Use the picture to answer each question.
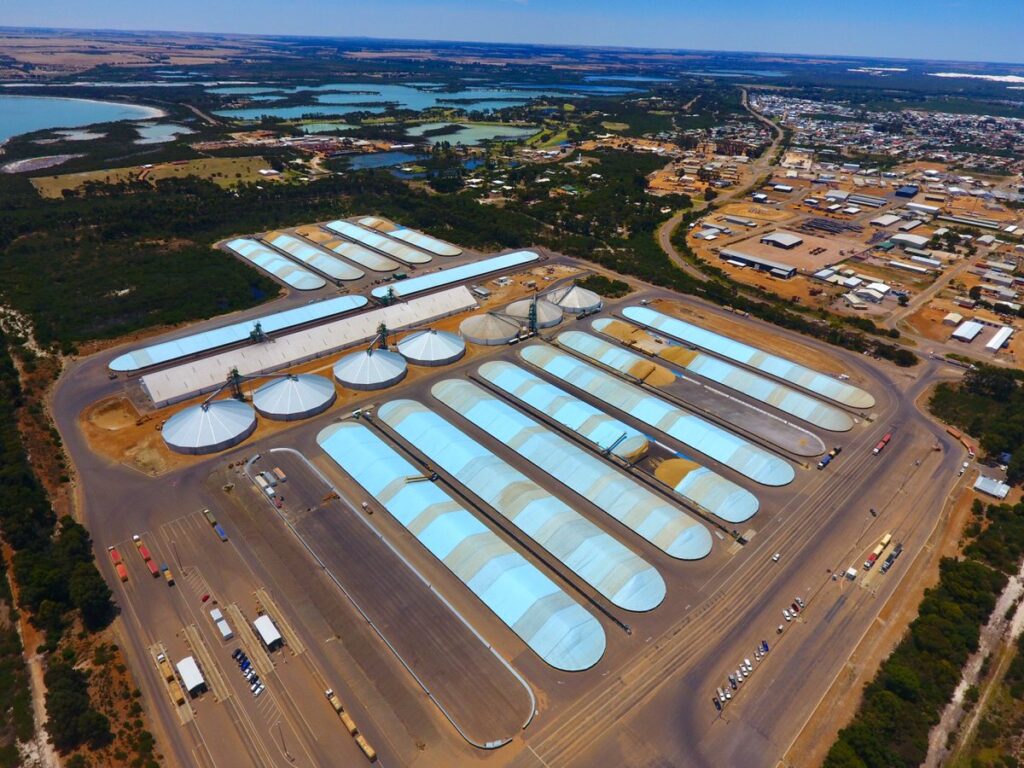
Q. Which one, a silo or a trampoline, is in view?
silo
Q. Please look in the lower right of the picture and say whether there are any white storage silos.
No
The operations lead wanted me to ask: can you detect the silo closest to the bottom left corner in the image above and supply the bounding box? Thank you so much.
[159,398,255,455]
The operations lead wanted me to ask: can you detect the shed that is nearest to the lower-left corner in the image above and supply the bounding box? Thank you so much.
[175,654,207,699]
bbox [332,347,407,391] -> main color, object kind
white silo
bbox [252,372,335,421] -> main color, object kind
white silo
